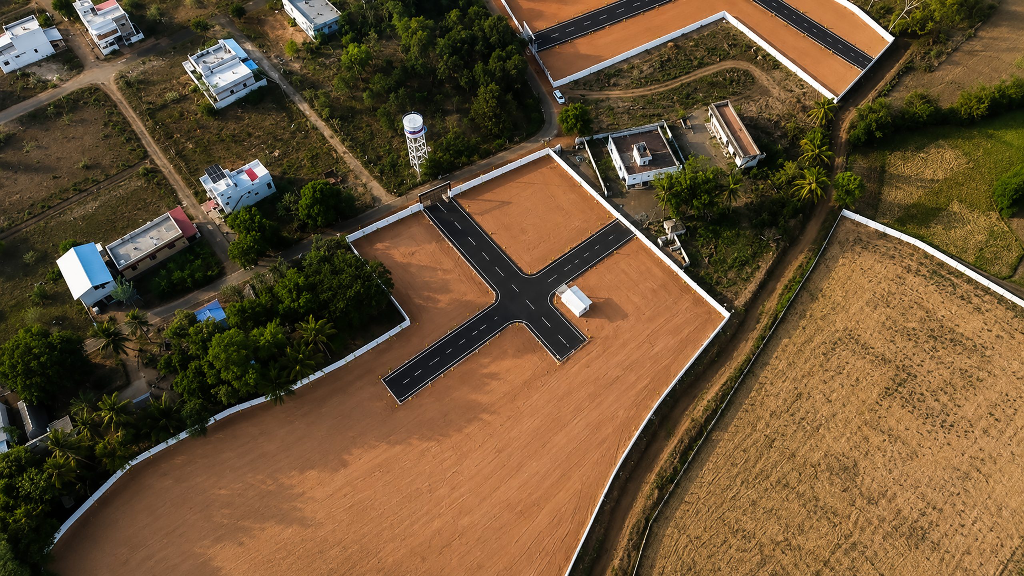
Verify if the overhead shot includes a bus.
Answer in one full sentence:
No, this view has no bus in it.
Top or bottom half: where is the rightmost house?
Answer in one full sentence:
The rightmost house sits in the top half of the picture.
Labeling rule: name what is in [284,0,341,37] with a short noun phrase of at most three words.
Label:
house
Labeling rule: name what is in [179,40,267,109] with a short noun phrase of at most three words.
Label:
house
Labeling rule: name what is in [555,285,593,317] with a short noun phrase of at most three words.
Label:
building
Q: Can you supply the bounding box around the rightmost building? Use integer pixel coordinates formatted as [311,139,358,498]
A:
[703,100,764,168]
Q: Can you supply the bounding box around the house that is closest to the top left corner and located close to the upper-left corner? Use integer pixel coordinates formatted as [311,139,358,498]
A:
[0,15,69,73]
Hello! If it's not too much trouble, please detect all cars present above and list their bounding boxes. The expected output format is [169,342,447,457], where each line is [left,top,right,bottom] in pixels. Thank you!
[553,89,565,103]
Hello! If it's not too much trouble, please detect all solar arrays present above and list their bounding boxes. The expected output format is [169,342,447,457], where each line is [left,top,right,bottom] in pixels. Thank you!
[203,163,229,188]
